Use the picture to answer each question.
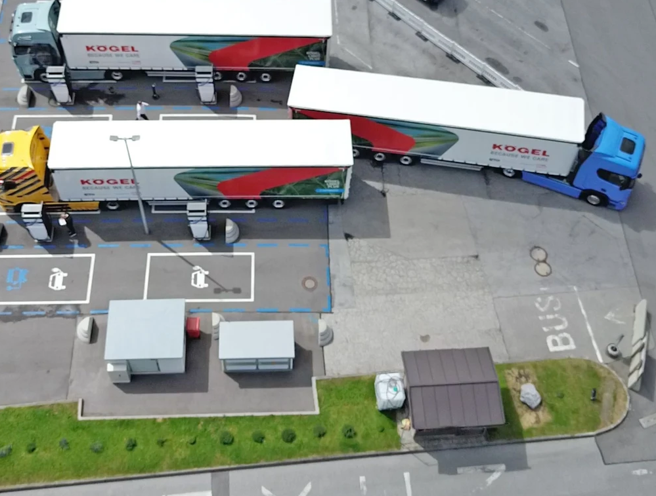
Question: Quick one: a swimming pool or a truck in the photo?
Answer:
truck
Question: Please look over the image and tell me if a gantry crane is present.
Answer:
No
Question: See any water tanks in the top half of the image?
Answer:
No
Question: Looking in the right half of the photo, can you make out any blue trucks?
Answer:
Yes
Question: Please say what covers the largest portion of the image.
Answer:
paved ground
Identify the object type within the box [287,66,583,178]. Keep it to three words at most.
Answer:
trailer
